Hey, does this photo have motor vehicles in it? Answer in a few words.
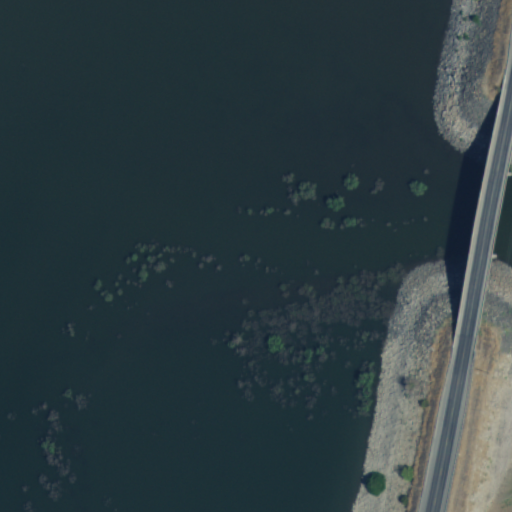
No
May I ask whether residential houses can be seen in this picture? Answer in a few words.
No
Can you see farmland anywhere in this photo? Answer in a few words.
No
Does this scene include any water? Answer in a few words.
Yes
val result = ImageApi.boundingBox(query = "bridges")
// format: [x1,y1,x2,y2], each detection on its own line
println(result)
[452,90,512,348]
